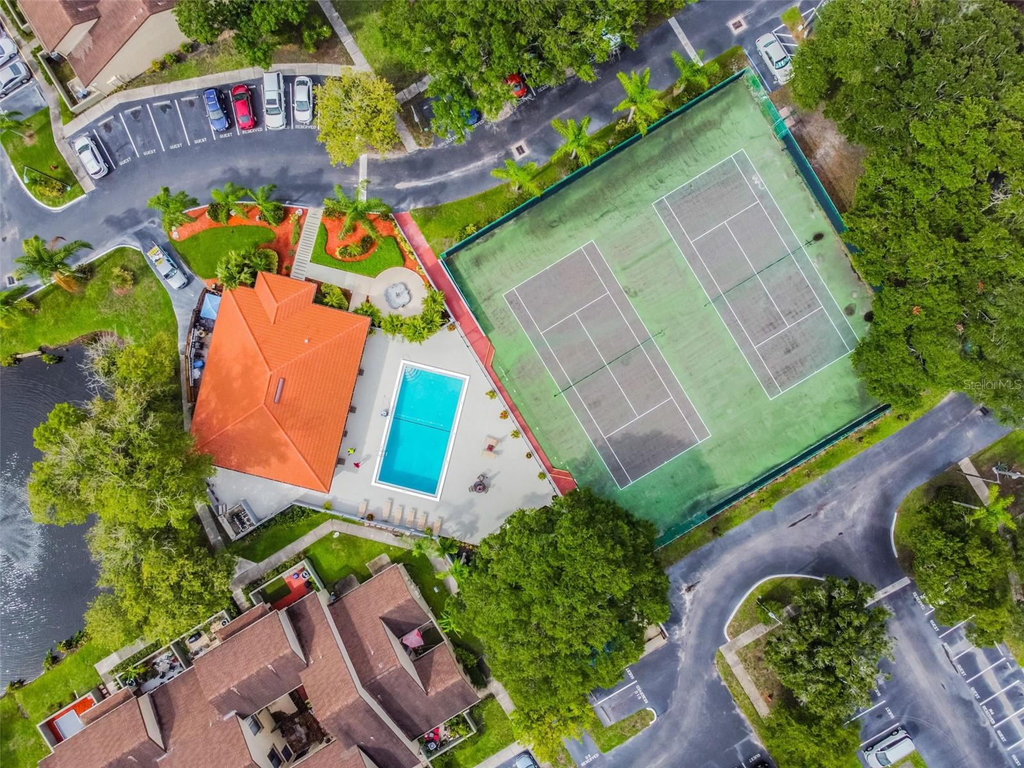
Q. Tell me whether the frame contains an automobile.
Yes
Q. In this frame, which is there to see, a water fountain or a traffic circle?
water fountain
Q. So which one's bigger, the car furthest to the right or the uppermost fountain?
the car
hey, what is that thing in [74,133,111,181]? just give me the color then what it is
white car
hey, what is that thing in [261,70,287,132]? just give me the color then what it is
white truck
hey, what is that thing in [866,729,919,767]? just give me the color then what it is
white car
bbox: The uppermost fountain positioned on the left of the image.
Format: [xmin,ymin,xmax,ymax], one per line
[382,281,412,310]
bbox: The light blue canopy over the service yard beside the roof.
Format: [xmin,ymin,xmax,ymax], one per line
[201,294,223,320]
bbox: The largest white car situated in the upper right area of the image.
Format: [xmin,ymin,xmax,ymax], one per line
[757,33,790,85]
